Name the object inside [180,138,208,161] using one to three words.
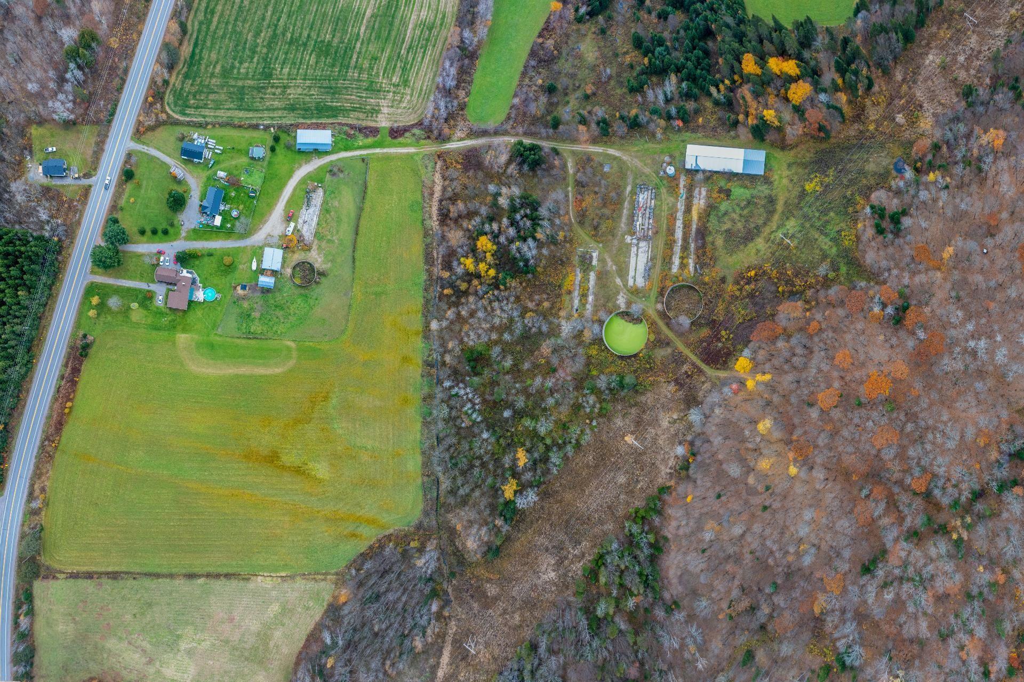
building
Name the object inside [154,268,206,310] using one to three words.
house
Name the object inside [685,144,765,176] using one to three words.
barn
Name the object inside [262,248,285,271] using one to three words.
shed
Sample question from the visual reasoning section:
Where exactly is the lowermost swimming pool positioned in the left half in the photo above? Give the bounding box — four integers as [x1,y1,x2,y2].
[202,288,217,301]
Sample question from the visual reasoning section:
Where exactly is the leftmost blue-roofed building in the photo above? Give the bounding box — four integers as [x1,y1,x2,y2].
[40,159,72,176]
